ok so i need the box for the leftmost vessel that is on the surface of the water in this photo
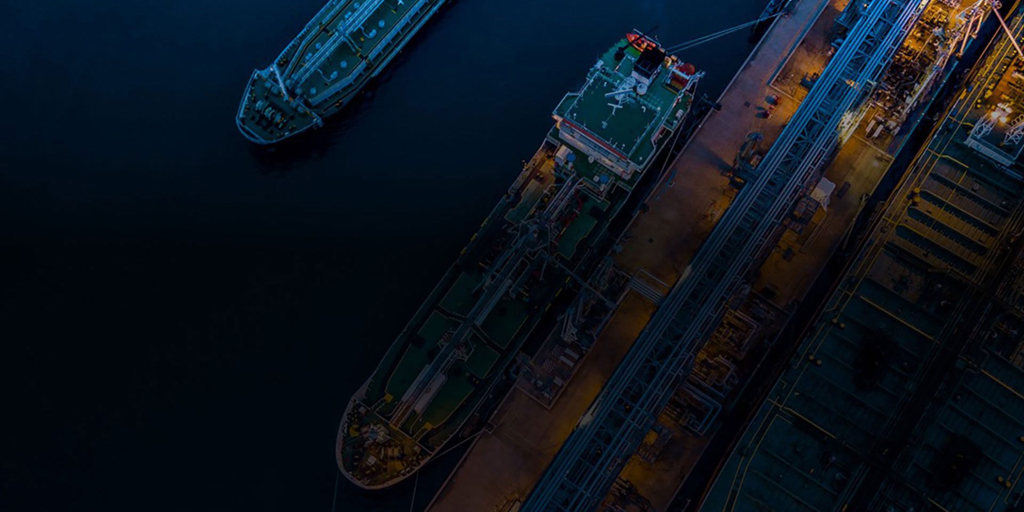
[237,0,477,148]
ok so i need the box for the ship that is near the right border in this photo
[685,0,1024,512]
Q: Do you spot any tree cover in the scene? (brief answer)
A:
No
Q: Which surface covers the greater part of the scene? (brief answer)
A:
water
